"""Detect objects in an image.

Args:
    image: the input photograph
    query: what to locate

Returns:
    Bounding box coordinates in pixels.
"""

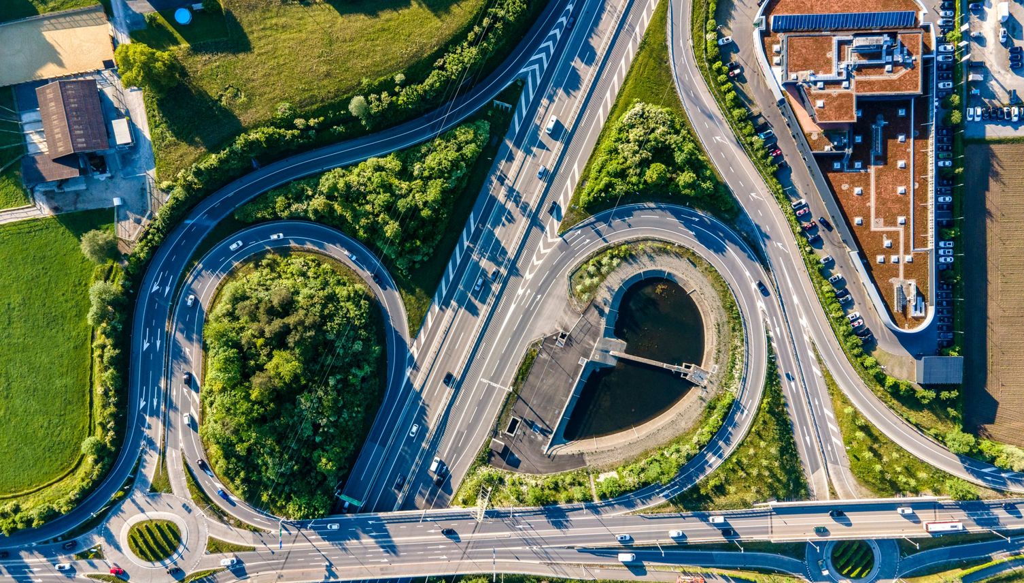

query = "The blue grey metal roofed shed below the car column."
[912,356,963,383]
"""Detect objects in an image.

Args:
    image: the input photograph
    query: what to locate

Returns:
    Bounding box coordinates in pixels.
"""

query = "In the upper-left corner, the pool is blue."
[174,8,191,25]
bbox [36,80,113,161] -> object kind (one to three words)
barn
